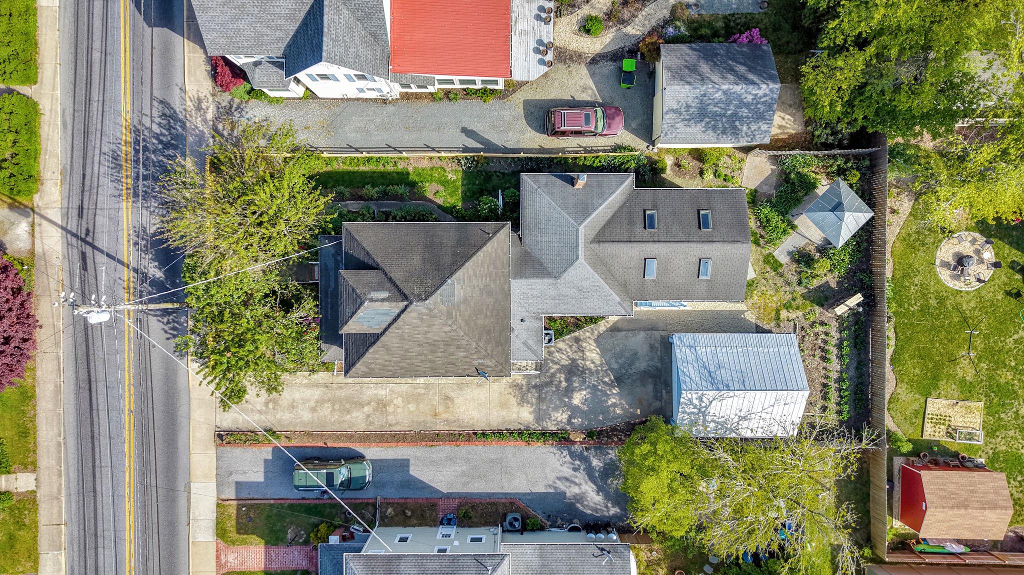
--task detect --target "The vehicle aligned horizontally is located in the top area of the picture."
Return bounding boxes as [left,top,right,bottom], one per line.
[544,103,624,141]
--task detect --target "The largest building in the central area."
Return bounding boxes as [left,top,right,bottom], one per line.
[311,171,750,379]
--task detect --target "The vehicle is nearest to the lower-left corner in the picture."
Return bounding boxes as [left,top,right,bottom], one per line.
[294,453,374,493]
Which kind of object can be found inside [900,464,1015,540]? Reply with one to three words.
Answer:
shed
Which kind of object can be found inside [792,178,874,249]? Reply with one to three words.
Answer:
gazebo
